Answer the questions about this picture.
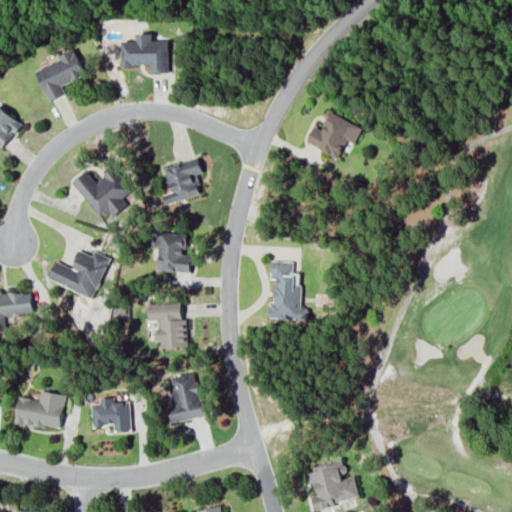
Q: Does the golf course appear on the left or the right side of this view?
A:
right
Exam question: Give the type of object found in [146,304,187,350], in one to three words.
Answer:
house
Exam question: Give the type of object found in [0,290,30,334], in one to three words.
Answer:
house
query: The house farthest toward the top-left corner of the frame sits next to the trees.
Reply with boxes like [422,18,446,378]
[36,49,84,102]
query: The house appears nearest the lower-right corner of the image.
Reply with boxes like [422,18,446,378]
[309,462,359,512]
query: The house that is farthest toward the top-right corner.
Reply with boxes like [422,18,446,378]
[306,110,363,160]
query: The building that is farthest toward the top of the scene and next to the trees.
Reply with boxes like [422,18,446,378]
[121,33,168,72]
